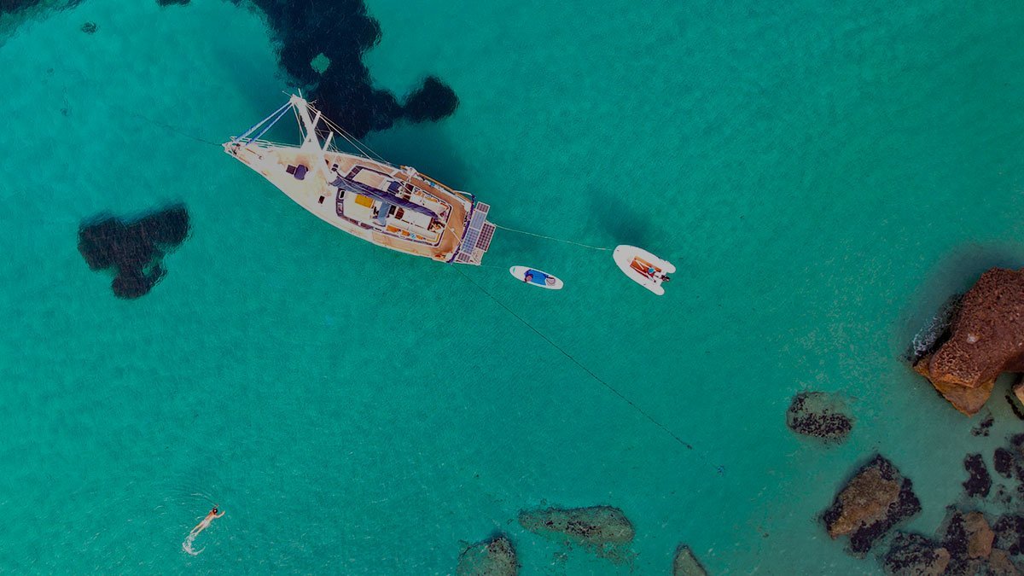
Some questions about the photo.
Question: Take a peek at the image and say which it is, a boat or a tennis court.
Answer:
boat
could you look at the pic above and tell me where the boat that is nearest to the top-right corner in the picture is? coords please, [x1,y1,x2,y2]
[613,244,673,295]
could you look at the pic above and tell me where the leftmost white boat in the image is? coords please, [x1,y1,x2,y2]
[219,88,496,265]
